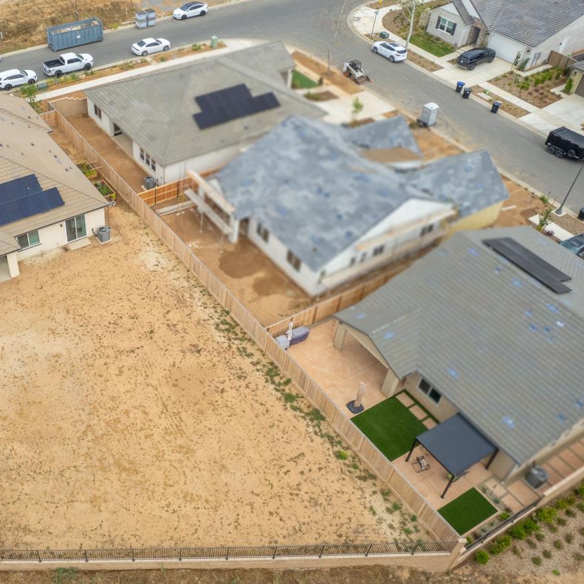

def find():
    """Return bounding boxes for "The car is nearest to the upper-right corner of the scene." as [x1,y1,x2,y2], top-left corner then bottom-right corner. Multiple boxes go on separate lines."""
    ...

[459,45,499,68]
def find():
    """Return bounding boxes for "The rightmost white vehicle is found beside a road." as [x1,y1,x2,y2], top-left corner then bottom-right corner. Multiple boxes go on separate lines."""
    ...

[370,39,409,61]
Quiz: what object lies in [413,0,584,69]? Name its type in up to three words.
house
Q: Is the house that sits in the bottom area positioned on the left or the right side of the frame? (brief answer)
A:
right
